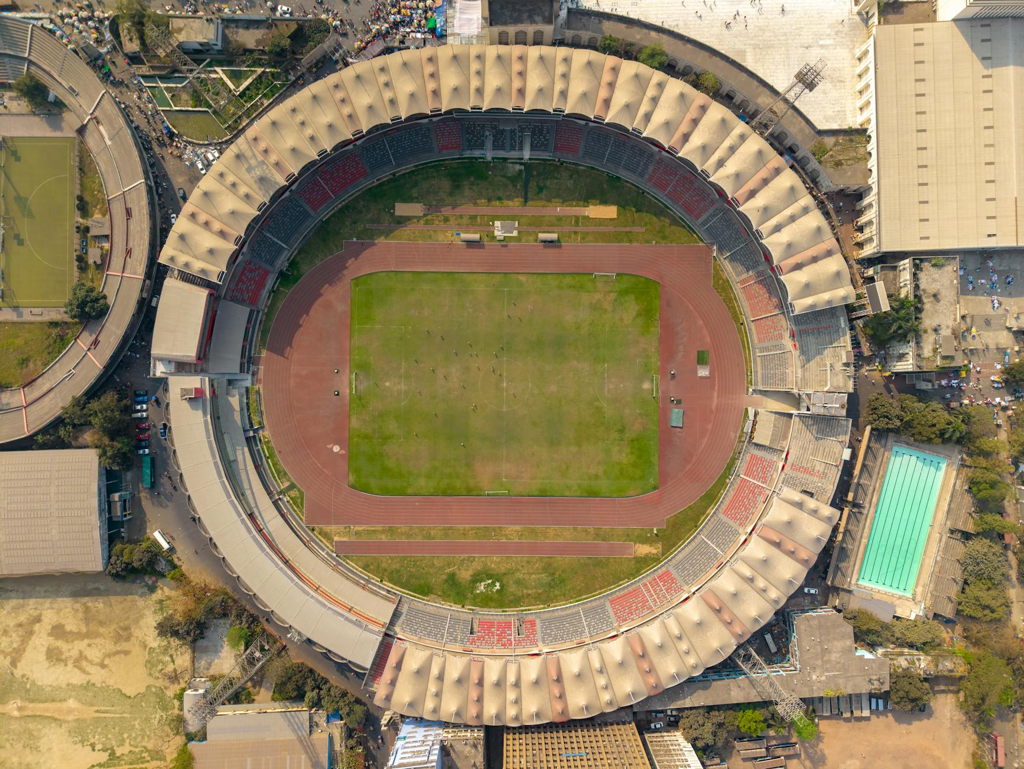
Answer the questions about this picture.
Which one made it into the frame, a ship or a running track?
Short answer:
running track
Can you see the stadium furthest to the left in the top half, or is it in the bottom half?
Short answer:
top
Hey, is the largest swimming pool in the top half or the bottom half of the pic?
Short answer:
bottom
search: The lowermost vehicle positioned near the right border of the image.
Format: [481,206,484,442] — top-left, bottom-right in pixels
[990,732,1005,766]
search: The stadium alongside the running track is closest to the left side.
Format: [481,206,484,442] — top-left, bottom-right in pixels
[0,14,165,451]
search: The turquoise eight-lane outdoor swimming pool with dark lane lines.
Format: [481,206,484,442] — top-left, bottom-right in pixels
[844,435,961,618]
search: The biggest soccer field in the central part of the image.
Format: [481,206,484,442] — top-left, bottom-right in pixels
[348,271,660,497]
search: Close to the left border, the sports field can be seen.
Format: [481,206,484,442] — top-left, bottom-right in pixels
[0,136,76,308]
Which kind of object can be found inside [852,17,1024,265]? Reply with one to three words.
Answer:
building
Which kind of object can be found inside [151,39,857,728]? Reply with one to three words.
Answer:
stadium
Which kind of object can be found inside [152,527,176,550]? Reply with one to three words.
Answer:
vehicle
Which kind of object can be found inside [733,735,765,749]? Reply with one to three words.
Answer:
vehicle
